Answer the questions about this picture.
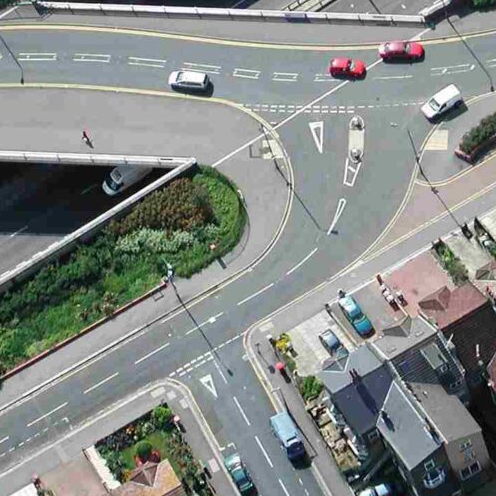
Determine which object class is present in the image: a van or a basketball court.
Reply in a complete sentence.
The one in the frame is a van.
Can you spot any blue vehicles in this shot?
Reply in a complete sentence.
Yes, there is a blue vehicle in the image.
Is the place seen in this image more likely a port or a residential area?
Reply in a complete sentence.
It's a residential area.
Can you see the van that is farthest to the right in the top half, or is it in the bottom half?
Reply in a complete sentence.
Seen from above, the van that is farthest to the right lies in the top half of the view.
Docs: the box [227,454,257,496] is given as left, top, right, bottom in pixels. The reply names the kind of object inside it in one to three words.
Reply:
car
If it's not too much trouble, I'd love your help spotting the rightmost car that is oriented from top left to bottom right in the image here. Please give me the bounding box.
[340,296,375,338]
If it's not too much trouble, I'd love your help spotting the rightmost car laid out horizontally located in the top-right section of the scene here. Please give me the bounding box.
[379,42,423,62]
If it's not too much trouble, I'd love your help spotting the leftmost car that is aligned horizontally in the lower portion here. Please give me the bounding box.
[359,479,400,496]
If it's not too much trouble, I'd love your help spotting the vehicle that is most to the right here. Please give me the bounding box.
[423,85,464,122]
